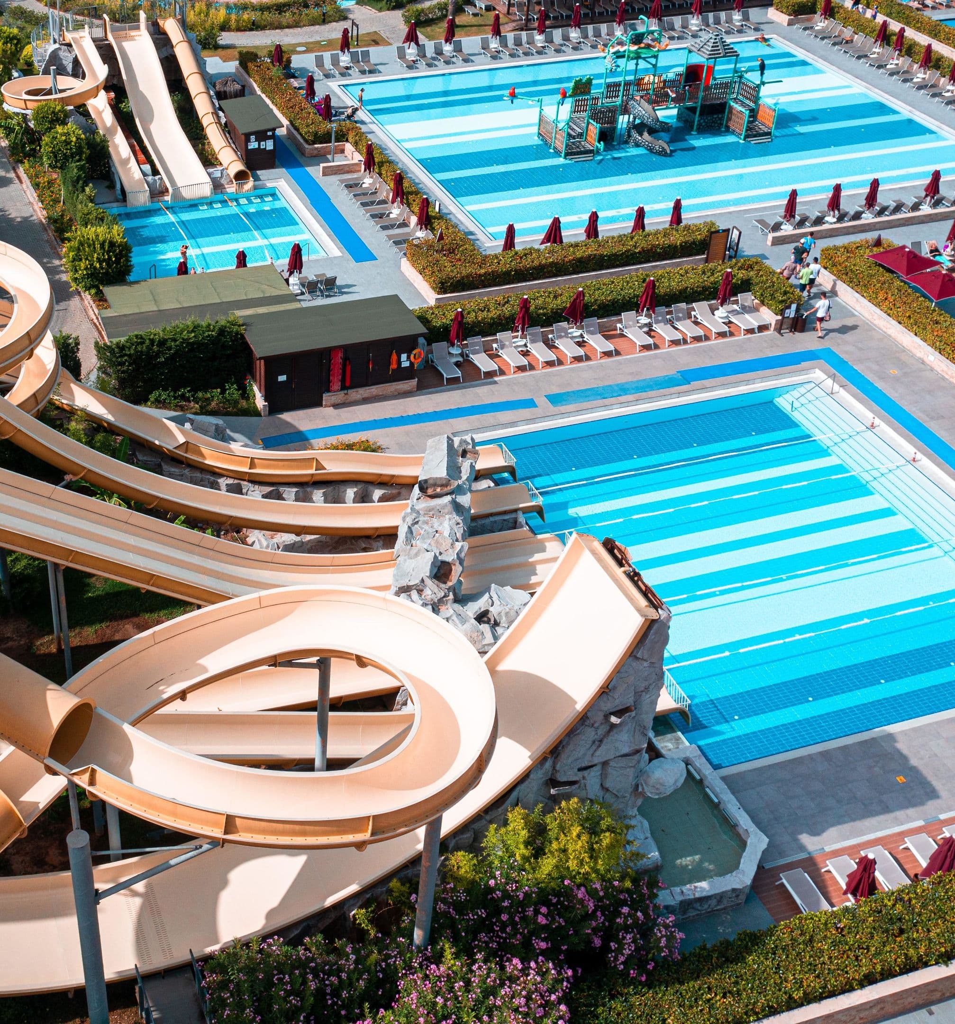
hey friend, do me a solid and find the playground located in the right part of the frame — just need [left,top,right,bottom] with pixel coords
[492,0,783,163]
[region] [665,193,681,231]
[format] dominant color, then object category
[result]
red umbrella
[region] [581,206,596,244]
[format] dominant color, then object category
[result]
red umbrella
